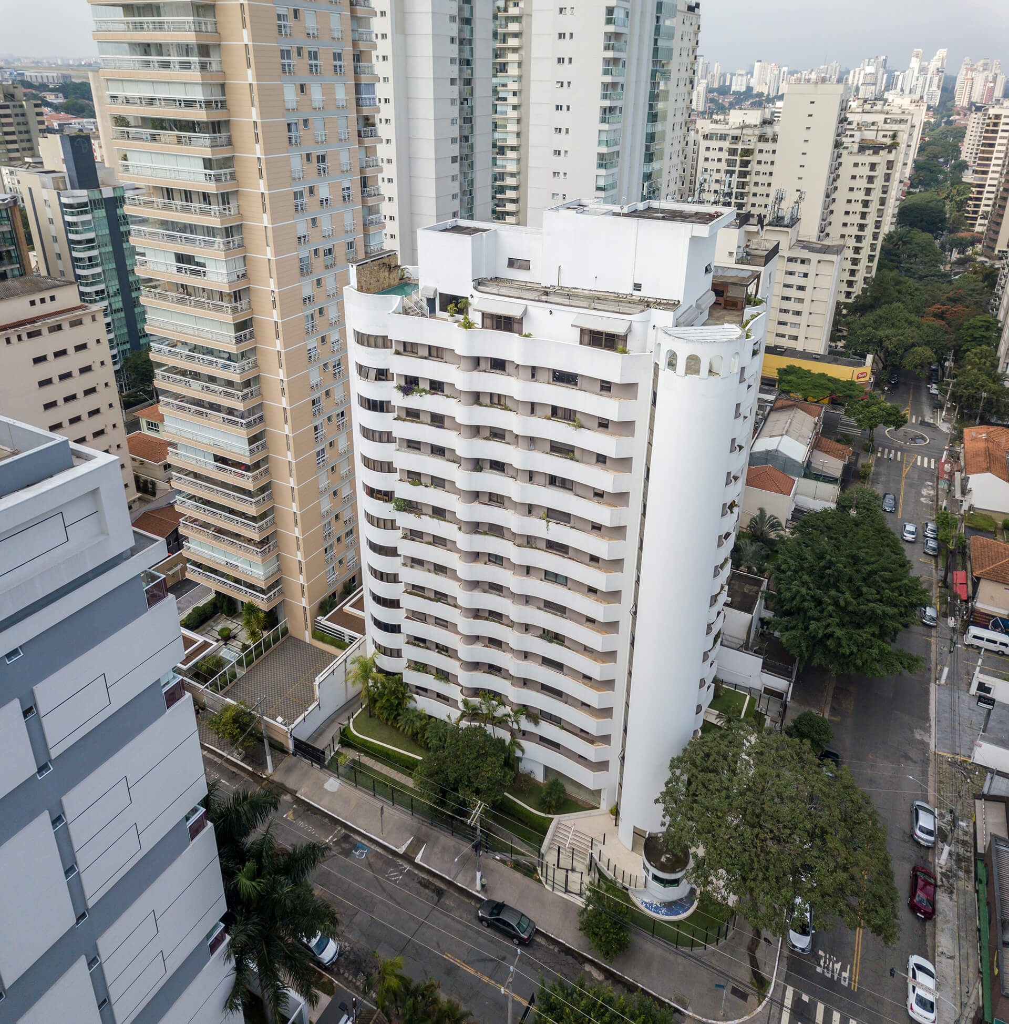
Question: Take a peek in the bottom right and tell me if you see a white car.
Yes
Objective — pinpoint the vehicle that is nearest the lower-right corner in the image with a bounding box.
[908,955,942,1021]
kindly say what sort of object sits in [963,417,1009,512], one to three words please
house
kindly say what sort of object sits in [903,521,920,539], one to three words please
car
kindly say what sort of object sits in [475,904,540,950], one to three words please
car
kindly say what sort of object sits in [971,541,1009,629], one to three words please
house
